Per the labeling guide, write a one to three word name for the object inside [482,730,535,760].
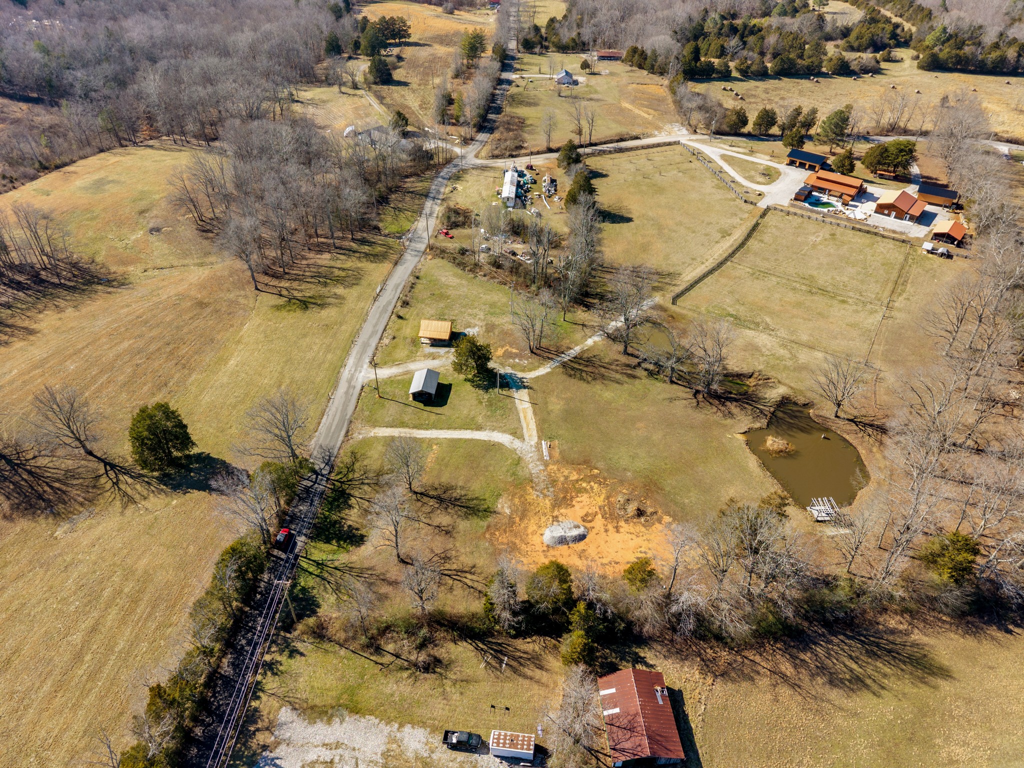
trailer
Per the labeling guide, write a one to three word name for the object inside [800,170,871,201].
house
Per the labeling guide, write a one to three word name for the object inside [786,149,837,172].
building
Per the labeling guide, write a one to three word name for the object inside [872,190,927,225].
barn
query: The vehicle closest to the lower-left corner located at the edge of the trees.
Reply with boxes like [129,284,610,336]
[274,526,290,547]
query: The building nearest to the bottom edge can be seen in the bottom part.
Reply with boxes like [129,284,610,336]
[596,668,685,768]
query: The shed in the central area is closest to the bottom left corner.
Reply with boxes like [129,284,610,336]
[410,369,440,403]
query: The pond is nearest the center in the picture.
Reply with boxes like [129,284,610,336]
[629,323,749,390]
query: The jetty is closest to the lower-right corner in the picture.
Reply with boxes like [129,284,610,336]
[803,495,838,526]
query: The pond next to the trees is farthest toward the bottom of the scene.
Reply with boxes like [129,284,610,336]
[742,402,870,510]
